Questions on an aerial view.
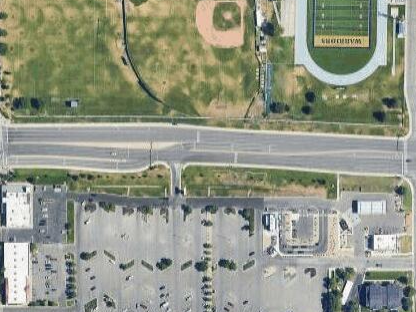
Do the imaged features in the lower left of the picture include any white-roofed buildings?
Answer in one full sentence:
Yes, a white-roofed building is visible in the lower left of the picture.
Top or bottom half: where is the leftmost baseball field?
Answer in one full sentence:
The leftmost baseball field sits in the top half of the picture.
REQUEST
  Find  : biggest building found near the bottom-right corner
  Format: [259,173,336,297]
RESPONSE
[366,284,403,310]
